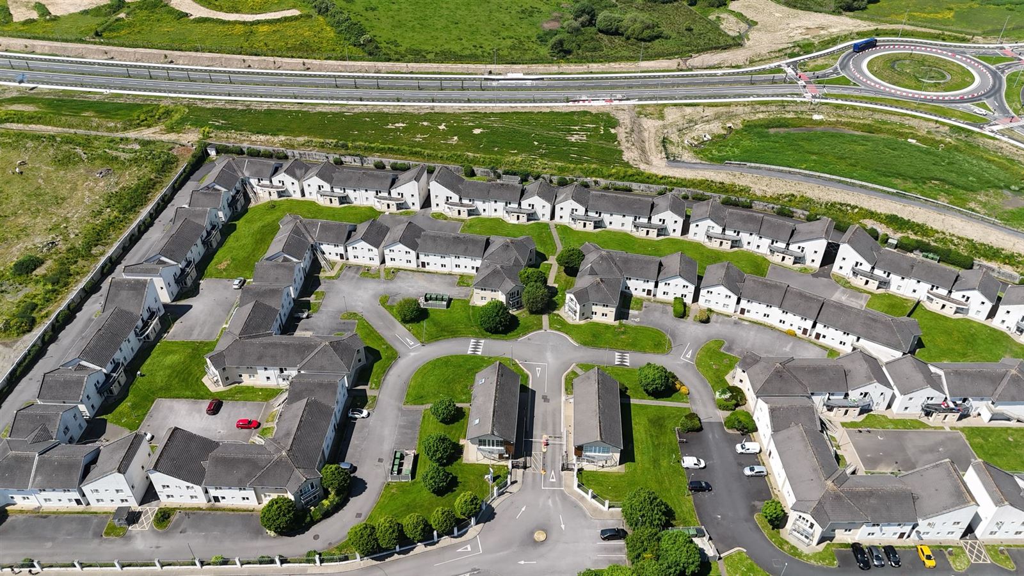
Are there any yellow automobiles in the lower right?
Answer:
Yes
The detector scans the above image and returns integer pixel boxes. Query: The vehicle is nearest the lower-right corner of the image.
[915,542,938,569]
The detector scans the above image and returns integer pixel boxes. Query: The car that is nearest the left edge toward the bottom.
[142,431,154,448]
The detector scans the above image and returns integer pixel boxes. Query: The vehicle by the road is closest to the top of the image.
[854,36,879,50]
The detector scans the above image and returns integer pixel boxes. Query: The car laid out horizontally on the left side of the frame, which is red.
[234,416,260,428]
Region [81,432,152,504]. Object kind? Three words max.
house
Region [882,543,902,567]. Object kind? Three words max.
car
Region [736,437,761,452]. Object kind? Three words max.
vehicle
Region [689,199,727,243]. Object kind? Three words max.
house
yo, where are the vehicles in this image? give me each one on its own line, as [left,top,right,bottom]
[600,526,627,540]
[854,36,879,50]
[332,458,356,476]
[866,543,886,567]
[681,453,706,468]
[882,543,902,567]
[850,542,872,569]
[204,396,221,413]
[687,479,713,492]
[915,542,938,569]
[142,431,154,448]
[736,437,761,452]
[346,405,370,417]
[234,416,260,428]
[744,464,768,476]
